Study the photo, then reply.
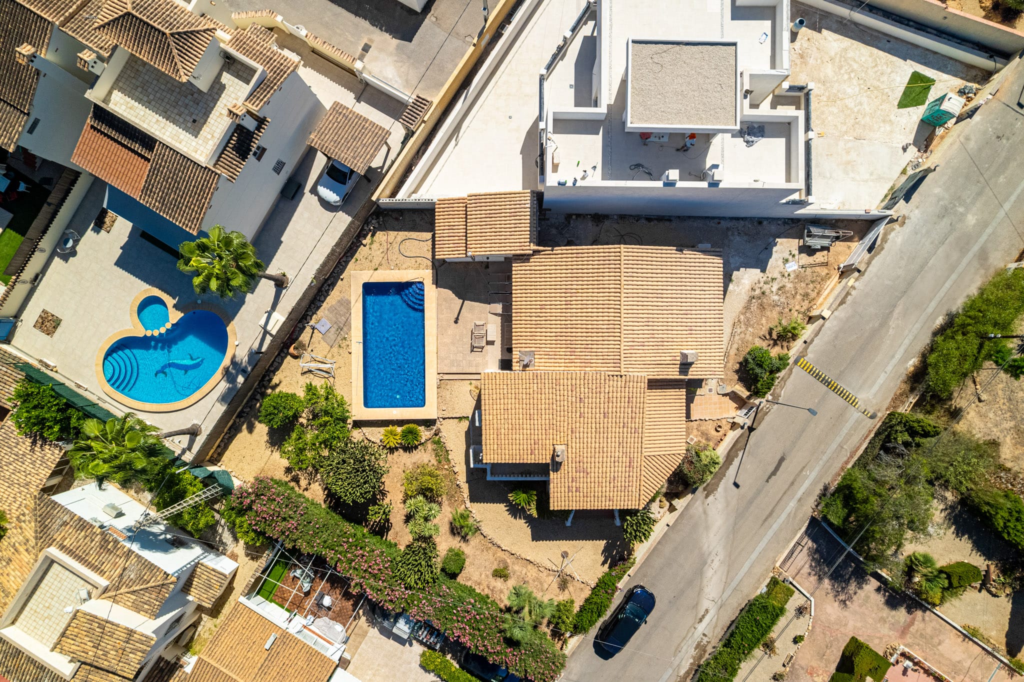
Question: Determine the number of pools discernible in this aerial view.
2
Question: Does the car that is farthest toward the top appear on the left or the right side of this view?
left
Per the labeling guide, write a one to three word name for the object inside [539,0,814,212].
building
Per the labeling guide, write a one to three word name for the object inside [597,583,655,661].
car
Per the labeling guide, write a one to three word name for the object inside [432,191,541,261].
shed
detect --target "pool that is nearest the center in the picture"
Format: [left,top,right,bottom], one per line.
[352,272,437,419]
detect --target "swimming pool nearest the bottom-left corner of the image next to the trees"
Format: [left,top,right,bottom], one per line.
[95,289,237,411]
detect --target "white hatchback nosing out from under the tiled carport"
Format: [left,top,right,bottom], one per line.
[316,158,359,206]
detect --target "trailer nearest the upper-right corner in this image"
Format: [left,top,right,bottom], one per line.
[803,222,853,250]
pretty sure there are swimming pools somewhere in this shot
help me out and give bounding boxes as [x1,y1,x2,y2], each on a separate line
[352,272,437,419]
[95,289,237,411]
